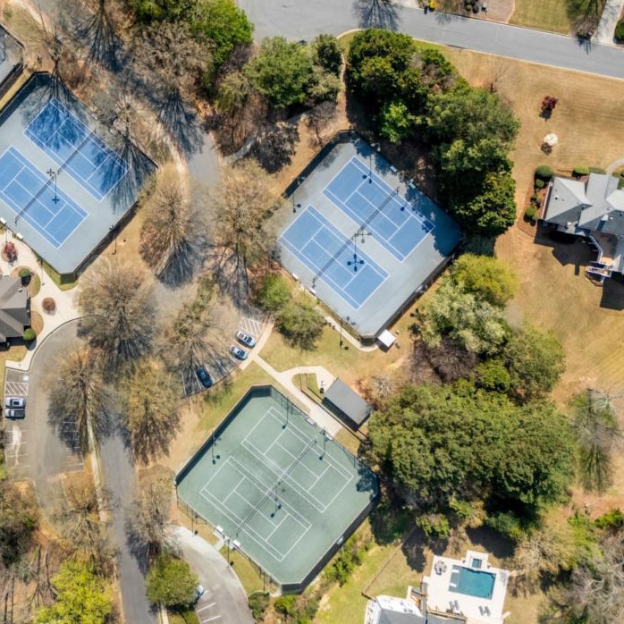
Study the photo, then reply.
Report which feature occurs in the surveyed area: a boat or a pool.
pool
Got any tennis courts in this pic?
Yes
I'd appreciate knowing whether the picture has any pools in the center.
No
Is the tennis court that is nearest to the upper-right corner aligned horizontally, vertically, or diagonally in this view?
diagonally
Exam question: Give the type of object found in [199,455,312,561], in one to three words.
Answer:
tennis court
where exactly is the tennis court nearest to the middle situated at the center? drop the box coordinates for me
[277,203,389,310]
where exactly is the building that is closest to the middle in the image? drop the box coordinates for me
[324,376,372,424]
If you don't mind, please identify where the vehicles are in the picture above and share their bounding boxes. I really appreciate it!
[4,397,25,408]
[229,344,249,361]
[197,366,213,388]
[236,330,258,348]
[3,408,26,420]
